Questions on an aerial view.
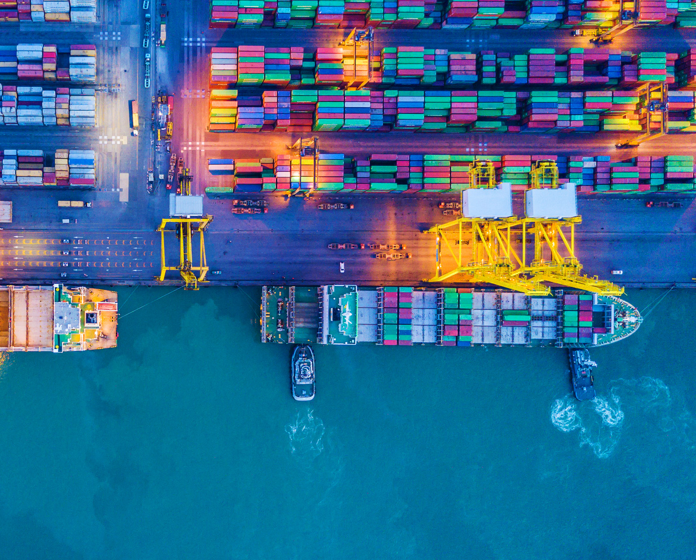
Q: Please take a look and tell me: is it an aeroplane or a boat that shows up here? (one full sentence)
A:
Visible in the photo is a boat.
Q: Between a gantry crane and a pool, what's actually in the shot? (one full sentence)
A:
The one in the frame is a gantry crane.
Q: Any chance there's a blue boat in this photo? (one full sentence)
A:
Yes, the image includes a blue boat.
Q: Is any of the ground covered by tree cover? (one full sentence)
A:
No, the picture contains no tree cover.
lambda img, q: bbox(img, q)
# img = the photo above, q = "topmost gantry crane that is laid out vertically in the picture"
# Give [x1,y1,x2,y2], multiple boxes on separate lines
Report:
[339,24,371,90]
